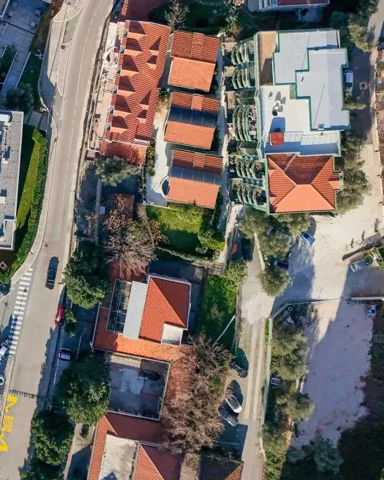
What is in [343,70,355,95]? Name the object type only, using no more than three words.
vehicle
